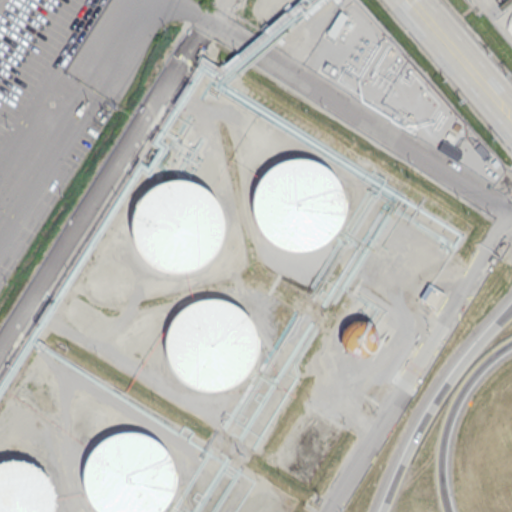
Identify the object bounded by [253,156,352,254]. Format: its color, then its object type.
white storage tank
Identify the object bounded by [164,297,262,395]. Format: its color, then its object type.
white storage tank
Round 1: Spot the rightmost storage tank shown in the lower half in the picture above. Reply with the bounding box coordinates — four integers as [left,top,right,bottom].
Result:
[342,320,390,358]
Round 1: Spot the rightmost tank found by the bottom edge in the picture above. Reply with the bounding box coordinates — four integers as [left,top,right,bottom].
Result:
[84,430,180,512]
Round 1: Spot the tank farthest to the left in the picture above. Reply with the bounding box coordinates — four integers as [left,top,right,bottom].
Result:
[0,458,62,512]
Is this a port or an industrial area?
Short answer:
industrial area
